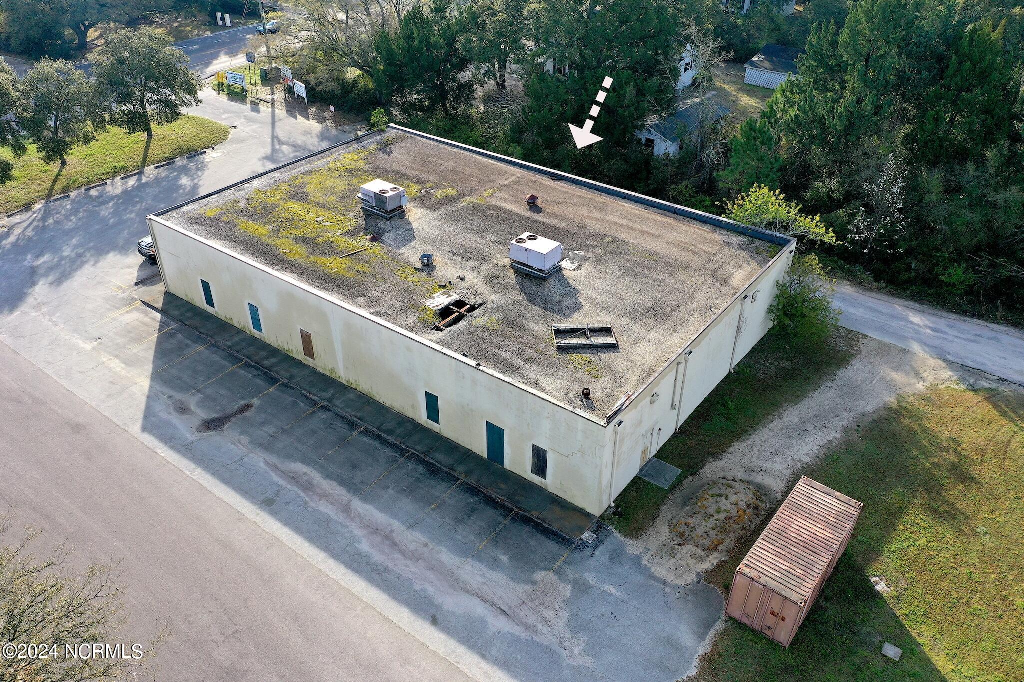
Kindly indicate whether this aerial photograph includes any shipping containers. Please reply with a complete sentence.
Yes, looking at the shot, I can spot a shipping container.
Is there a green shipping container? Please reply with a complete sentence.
No, no green shipping container can be seen from above.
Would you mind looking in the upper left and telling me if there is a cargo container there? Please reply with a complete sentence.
No, no cargo container appears in the upper left.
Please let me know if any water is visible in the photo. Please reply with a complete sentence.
No, there's no water in this view.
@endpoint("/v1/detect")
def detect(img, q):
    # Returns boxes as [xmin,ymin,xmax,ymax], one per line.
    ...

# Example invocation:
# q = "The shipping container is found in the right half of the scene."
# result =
[726,477,863,649]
